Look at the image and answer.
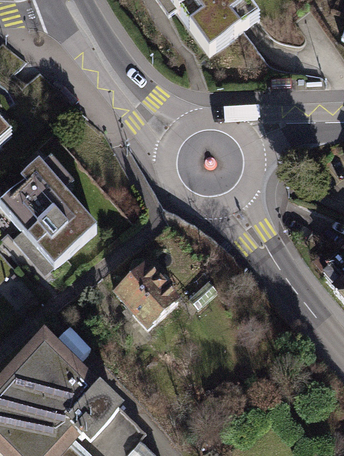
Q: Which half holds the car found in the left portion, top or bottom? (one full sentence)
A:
The car found in the left portion sits in the top half of the picture.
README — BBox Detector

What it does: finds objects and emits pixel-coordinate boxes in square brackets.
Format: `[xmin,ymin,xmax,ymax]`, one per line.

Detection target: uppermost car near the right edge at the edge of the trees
[330,156,344,179]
